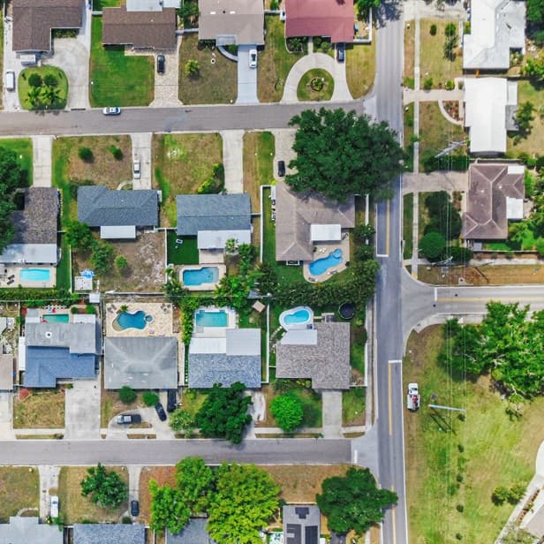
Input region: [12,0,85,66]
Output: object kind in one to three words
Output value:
house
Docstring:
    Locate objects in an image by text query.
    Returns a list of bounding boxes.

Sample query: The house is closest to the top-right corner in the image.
[460,0,526,69]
